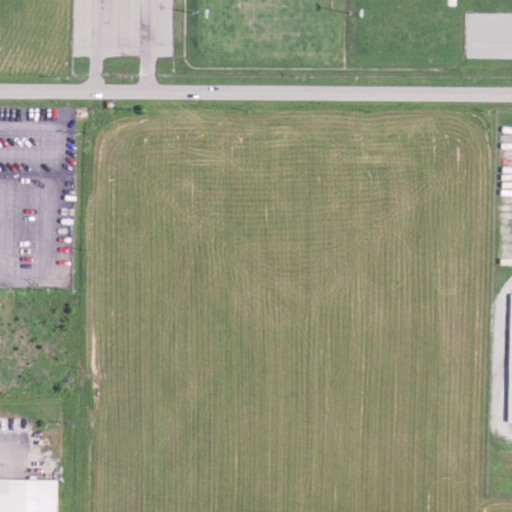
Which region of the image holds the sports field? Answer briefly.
top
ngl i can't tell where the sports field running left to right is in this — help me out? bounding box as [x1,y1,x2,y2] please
[188,0,344,68]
